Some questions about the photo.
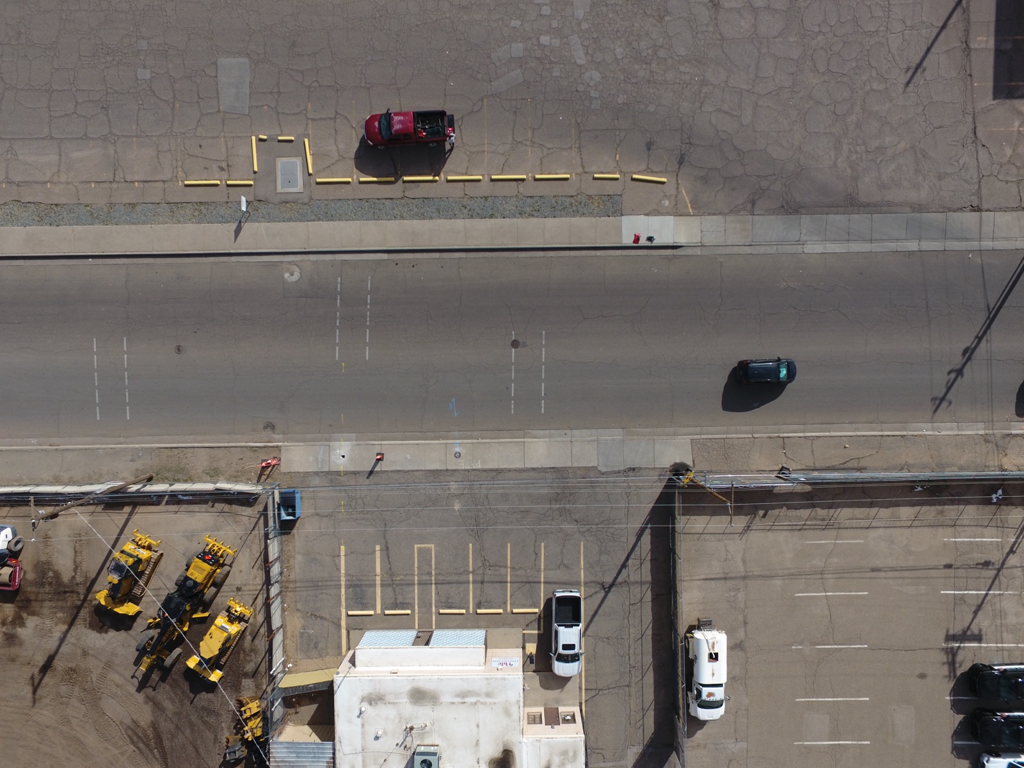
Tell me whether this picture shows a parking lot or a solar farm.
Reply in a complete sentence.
This image shows a parking lot.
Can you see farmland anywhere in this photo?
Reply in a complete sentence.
No, there's no farmland in this view.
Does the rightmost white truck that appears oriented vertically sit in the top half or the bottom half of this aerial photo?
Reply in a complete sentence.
The rightmost white truck that appears oriented vertically is in the bottom half of the image.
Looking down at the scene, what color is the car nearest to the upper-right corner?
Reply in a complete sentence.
The car nearest to the upper-right corner looks black in the image.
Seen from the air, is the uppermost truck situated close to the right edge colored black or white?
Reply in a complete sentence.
The uppermost truck situated close to the right edge looks black in the image.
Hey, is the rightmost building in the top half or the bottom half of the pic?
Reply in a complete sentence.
You can find the rightmost building in the bottom half.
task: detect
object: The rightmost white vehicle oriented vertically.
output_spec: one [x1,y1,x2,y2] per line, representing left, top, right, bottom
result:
[686,621,731,718]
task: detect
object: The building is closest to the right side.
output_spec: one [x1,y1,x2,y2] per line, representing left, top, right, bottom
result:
[333,630,586,768]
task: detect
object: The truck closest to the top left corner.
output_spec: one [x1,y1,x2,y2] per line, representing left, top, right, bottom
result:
[363,108,452,148]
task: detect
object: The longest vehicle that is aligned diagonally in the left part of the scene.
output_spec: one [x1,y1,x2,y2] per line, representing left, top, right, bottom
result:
[129,537,236,676]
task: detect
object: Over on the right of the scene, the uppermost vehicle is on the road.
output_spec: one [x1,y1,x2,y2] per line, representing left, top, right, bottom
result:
[735,356,796,390]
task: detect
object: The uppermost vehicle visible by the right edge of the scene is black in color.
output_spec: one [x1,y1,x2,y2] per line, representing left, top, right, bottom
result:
[965,660,1024,701]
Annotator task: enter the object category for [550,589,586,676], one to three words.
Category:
truck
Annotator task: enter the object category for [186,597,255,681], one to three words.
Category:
work vehicle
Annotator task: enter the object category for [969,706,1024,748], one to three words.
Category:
truck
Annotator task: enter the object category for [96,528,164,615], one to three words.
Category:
work vehicle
